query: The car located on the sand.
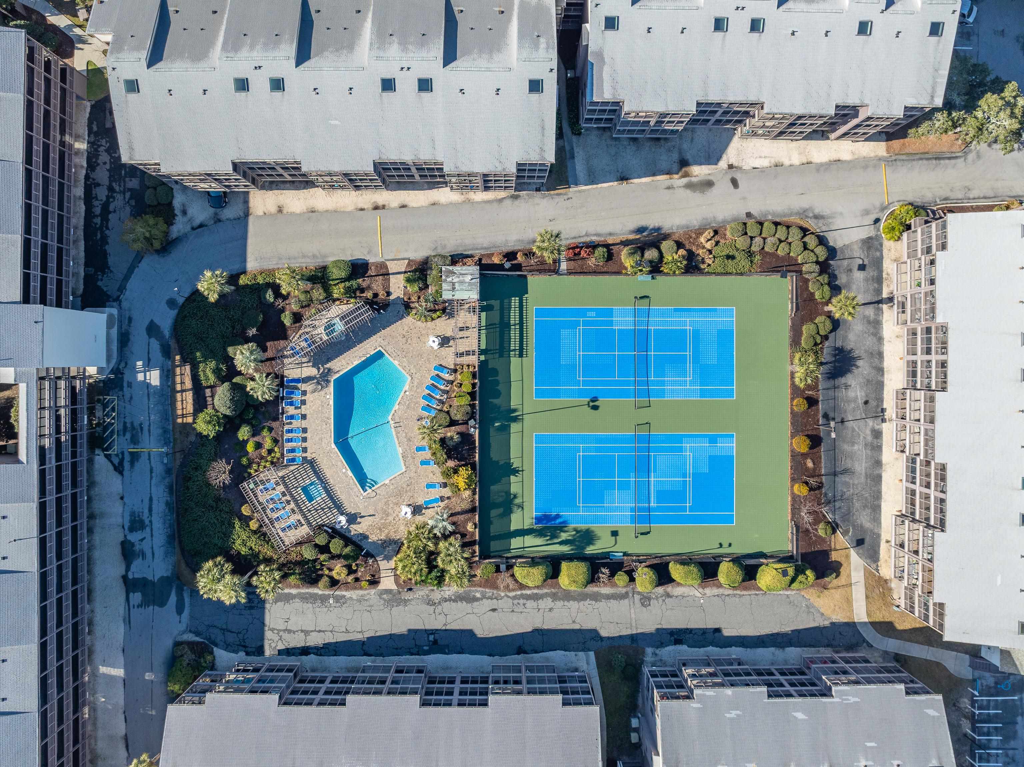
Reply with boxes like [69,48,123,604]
[207,191,228,209]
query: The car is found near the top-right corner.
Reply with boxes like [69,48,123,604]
[955,1,983,24]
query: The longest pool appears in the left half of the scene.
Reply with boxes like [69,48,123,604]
[330,346,412,499]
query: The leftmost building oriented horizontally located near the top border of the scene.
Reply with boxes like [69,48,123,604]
[84,0,556,191]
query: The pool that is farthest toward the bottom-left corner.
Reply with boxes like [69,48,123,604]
[299,479,325,504]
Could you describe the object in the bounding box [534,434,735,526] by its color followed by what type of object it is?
blue tennis court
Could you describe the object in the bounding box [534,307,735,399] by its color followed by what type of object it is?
blue tennis court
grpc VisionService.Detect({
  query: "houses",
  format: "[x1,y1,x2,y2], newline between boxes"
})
[0,27,108,767]
[577,0,959,141]
[631,652,952,767]
[890,211,1024,647]
[162,660,601,767]
[84,0,556,191]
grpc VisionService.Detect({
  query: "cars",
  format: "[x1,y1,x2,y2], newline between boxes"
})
[207,191,228,209]
[955,1,983,24]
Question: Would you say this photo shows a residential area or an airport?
residential area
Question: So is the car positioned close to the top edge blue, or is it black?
blue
